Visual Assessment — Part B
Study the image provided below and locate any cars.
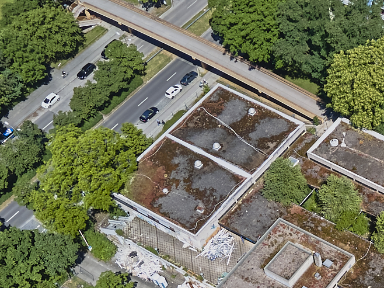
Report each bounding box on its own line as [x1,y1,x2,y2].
[72,59,96,80]
[0,123,18,138]
[177,70,199,88]
[135,105,158,125]
[96,38,118,57]
[38,90,59,107]
[160,84,183,102]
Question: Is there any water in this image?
No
